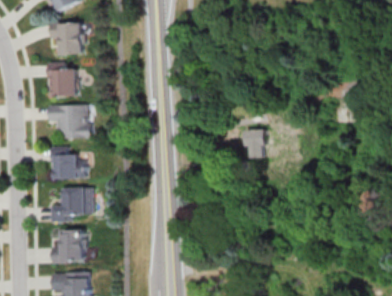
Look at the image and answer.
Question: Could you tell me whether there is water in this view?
No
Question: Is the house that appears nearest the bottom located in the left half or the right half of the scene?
left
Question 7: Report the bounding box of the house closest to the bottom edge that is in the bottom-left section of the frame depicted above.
[52,272,91,296]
